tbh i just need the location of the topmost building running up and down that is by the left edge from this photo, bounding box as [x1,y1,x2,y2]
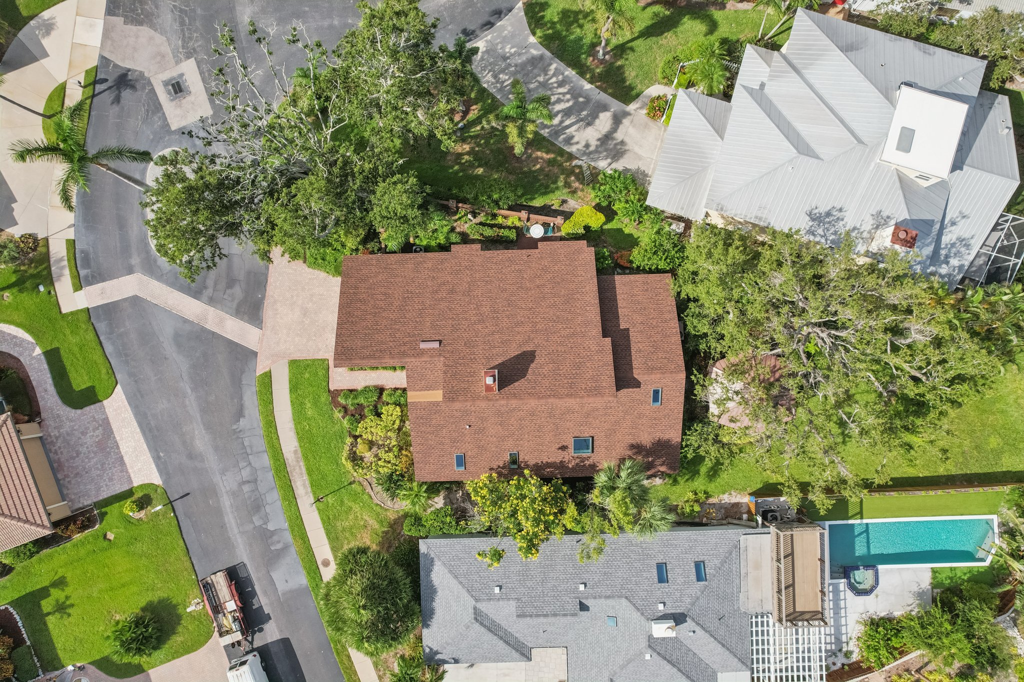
[0,408,70,553]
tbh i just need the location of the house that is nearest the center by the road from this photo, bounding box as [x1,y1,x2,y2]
[334,240,686,481]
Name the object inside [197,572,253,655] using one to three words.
trailer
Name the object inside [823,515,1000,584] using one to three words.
swimming pool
